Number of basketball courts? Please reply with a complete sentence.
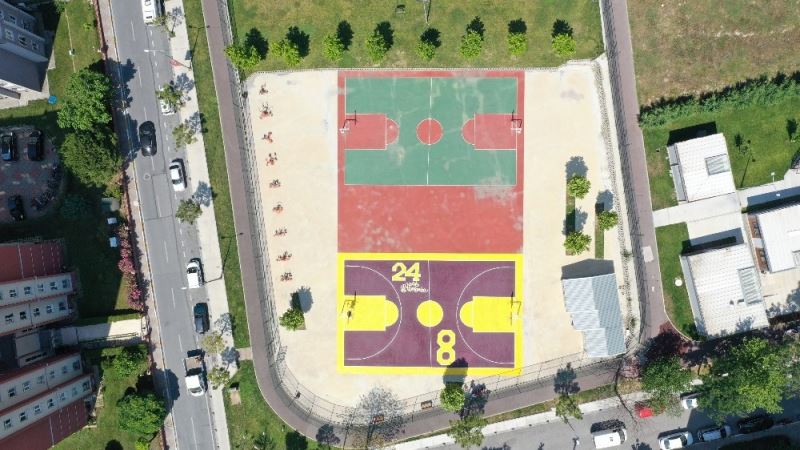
In total, 2 basketball courts can be seen.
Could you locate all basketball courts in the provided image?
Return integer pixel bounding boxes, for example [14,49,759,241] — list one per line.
[338,252,523,375]
[338,70,525,253]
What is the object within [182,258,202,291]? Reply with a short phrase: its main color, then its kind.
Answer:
white car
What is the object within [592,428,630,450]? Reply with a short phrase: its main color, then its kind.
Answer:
white vehicle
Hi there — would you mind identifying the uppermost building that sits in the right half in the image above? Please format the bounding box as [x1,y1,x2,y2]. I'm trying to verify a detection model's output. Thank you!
[668,134,736,202]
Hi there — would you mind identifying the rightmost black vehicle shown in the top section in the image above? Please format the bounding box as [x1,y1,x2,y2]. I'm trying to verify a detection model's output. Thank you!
[135,119,156,157]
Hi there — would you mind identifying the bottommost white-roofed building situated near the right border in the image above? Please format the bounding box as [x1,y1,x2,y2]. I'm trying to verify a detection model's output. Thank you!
[678,242,769,338]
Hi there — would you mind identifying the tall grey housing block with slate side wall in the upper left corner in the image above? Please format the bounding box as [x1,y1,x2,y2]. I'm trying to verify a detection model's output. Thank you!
[0,0,49,105]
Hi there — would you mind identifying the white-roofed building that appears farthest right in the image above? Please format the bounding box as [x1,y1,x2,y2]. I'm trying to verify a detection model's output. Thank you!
[745,201,800,274]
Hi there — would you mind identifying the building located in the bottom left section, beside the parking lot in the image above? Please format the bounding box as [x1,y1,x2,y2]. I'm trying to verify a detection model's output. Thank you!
[0,241,95,450]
